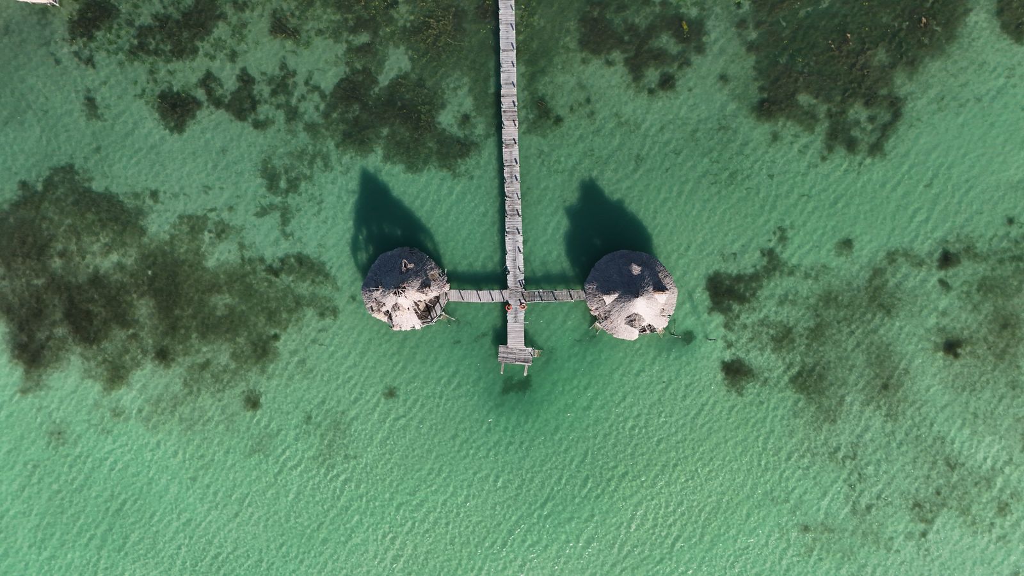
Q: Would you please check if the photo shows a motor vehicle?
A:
No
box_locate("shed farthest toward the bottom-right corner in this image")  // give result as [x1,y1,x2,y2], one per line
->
[583,249,678,341]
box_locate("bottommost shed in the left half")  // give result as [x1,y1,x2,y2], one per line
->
[361,246,451,333]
